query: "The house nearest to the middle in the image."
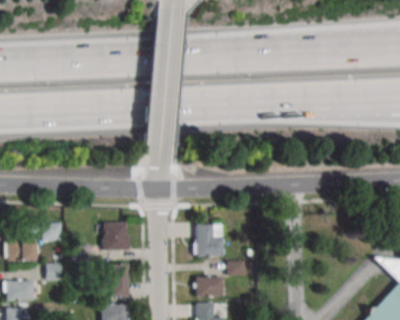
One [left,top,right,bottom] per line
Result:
[192,222,224,256]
